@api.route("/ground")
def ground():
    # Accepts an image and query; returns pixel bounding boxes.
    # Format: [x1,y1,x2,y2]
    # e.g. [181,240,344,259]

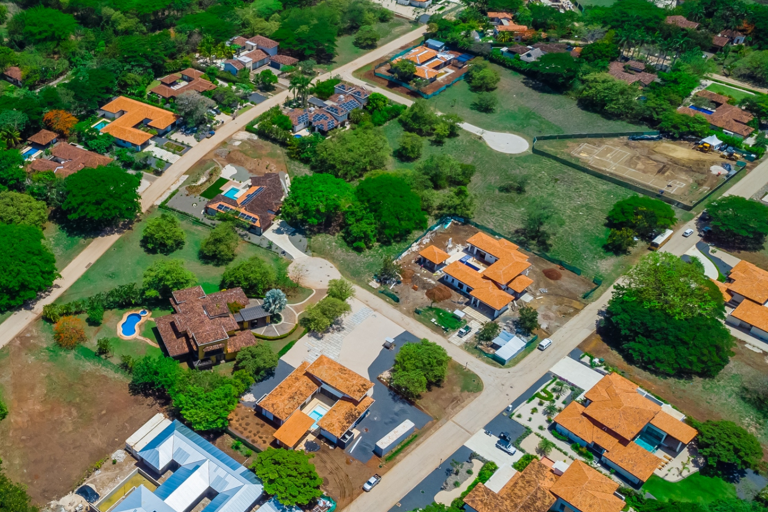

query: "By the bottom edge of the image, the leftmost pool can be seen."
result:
[98,468,156,512]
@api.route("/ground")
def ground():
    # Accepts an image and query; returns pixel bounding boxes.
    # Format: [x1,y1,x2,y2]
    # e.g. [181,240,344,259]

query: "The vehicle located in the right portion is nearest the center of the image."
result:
[454,324,475,339]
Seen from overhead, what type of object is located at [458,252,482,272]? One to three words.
swimming pool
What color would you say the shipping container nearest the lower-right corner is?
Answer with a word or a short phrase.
white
